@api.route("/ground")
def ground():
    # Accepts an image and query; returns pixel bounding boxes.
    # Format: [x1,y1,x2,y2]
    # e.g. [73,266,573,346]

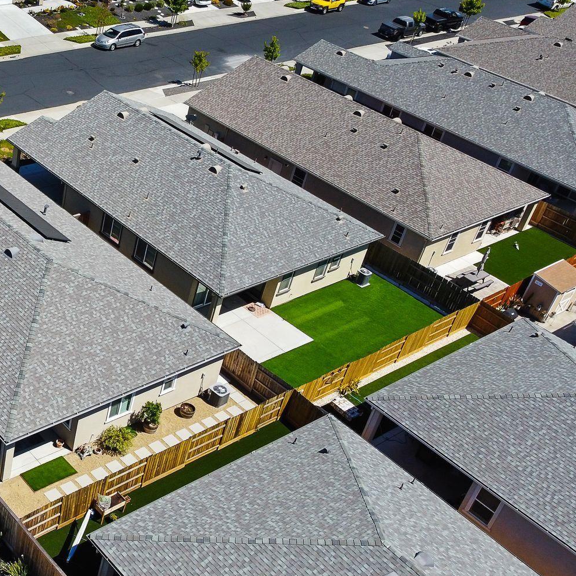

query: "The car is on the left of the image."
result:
[94,22,148,50]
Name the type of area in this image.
residential area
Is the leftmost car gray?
Yes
